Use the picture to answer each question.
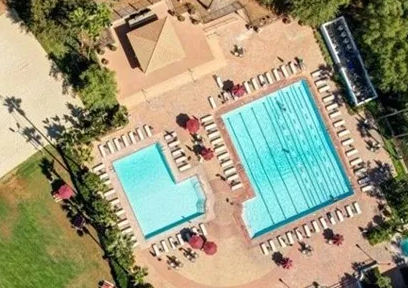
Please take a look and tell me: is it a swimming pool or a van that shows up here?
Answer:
swimming pool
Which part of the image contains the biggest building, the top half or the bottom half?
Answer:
top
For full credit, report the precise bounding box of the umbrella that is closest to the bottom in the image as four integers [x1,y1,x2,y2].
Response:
[281,256,295,270]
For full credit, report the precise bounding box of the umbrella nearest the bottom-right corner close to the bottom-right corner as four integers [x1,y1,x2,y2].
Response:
[333,231,348,246]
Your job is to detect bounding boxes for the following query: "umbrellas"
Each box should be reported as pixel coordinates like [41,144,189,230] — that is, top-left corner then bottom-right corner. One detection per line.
[234,82,249,96]
[187,117,201,132]
[190,236,205,250]
[203,240,219,255]
[333,231,348,246]
[55,183,71,199]
[202,147,215,160]
[281,256,295,270]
